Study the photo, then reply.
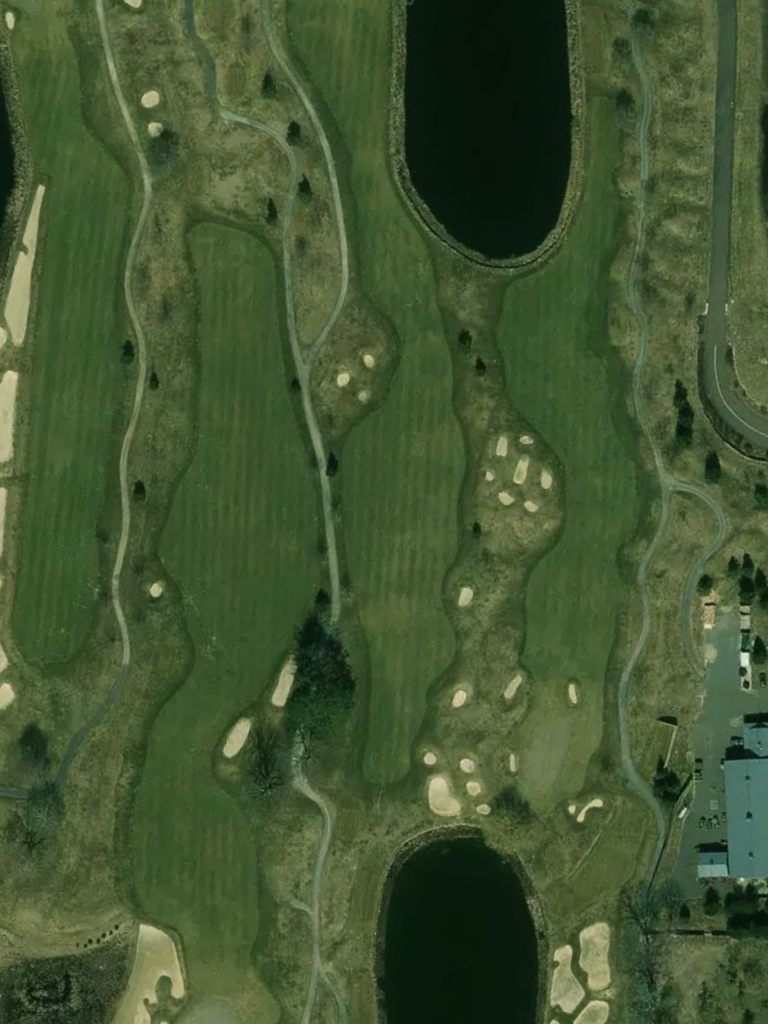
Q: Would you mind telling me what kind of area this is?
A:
golf course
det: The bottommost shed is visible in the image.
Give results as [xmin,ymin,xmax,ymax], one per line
[699,853,728,878]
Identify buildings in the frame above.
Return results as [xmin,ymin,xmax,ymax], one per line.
[699,853,728,878]
[725,760,768,879]
[745,724,768,760]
